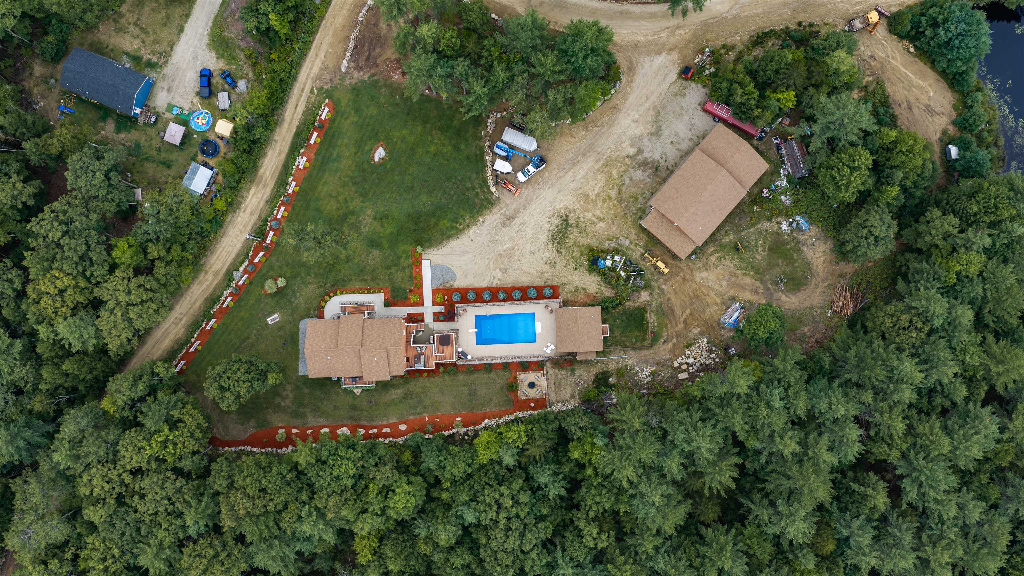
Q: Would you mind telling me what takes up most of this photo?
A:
trees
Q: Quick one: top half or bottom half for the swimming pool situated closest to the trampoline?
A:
top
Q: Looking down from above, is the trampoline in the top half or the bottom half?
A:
top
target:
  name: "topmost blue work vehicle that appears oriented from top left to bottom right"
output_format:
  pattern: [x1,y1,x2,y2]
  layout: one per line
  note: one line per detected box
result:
[217,67,239,90]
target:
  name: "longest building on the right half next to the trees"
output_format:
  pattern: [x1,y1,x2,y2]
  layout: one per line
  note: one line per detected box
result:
[639,123,769,260]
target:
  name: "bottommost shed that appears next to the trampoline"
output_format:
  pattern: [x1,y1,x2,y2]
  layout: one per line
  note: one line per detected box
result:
[183,162,217,195]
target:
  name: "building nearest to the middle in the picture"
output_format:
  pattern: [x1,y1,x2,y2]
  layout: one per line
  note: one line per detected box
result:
[555,306,609,361]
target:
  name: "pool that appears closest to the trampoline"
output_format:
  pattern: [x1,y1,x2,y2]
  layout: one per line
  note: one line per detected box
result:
[189,105,212,132]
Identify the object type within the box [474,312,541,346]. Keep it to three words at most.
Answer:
swimming pool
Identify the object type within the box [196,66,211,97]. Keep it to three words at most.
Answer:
vehicle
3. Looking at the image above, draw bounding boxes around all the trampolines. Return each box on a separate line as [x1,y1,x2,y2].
[195,137,219,157]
